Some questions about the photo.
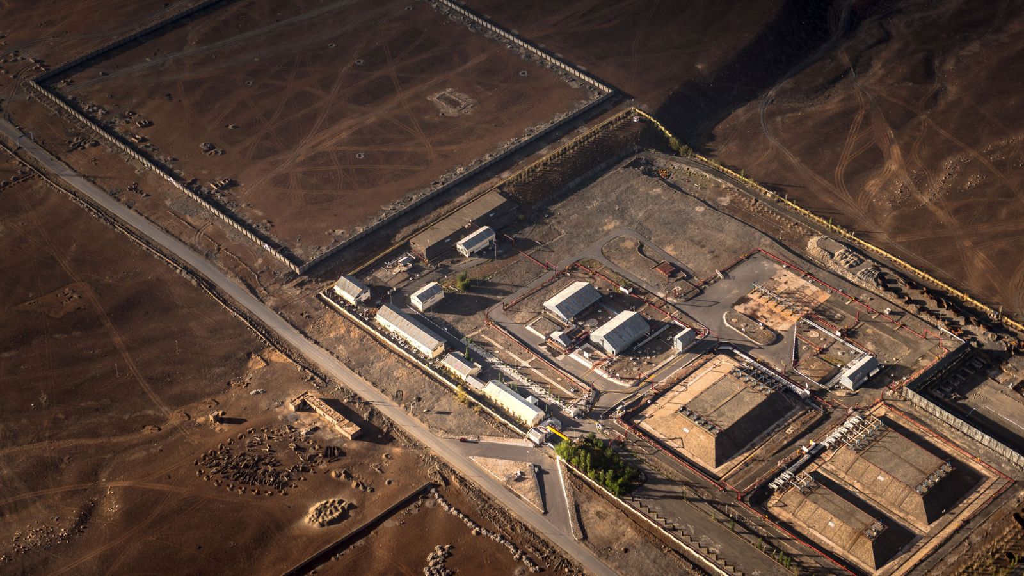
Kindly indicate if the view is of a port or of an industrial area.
industrial area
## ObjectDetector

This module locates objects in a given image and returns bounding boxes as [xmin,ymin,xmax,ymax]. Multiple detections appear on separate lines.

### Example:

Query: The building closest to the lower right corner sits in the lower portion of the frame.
[840,355,880,390]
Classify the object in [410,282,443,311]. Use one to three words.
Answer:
building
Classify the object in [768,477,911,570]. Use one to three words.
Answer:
storage tank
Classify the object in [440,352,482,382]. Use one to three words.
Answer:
building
